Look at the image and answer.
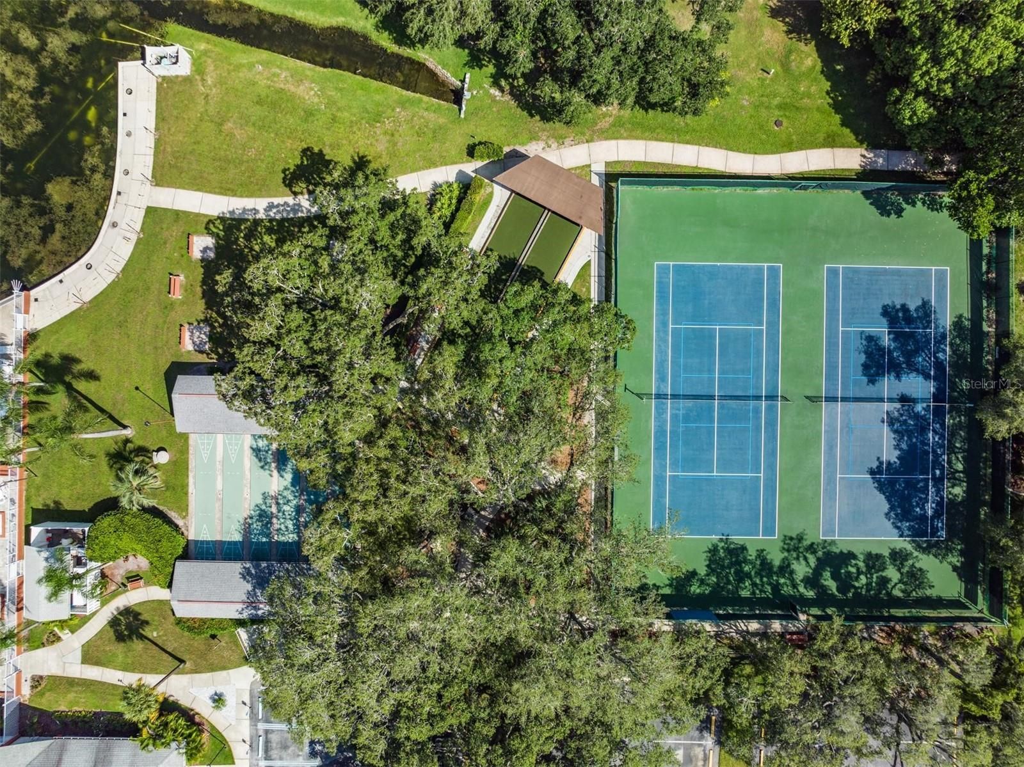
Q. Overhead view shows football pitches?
No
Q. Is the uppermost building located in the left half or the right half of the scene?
left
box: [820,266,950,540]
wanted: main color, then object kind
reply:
blue tennis court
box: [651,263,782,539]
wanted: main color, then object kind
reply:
blue tennis court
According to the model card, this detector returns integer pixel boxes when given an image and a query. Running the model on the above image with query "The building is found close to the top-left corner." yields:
[141,43,191,75]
